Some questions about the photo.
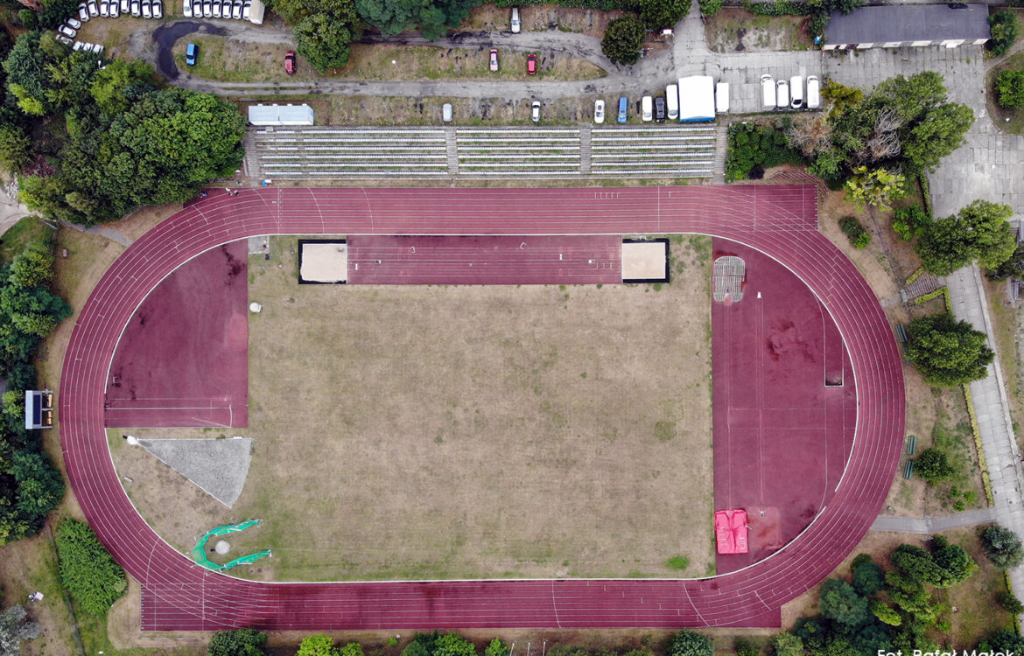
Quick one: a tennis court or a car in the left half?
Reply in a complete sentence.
It is a car that can be seen in the left half.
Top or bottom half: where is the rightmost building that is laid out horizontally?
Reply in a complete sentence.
The rightmost building that is laid out horizontally sits in the top half of the picture.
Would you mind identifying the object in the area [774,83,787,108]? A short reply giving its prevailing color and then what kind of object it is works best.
white vehicle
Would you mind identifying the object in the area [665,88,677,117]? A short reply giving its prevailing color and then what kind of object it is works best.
white vehicle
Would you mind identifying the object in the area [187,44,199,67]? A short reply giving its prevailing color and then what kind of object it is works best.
blue vehicle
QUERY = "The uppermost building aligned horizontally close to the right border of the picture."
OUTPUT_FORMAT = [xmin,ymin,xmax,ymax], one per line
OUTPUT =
[816,3,990,51]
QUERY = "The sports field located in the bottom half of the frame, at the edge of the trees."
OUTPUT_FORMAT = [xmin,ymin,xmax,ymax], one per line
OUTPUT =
[108,233,719,582]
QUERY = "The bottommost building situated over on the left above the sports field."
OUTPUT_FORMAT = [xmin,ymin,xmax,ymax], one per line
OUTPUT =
[249,105,313,123]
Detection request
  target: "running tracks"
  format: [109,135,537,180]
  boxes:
[59,182,906,632]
